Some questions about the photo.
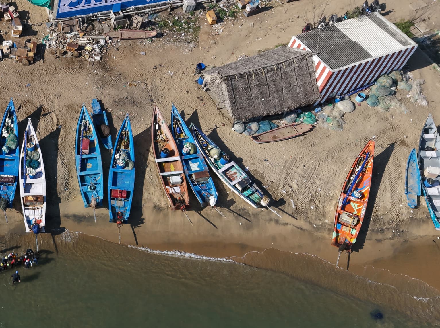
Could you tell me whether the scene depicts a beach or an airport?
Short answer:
beach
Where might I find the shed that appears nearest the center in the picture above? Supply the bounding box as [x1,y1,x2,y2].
[200,44,329,122]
